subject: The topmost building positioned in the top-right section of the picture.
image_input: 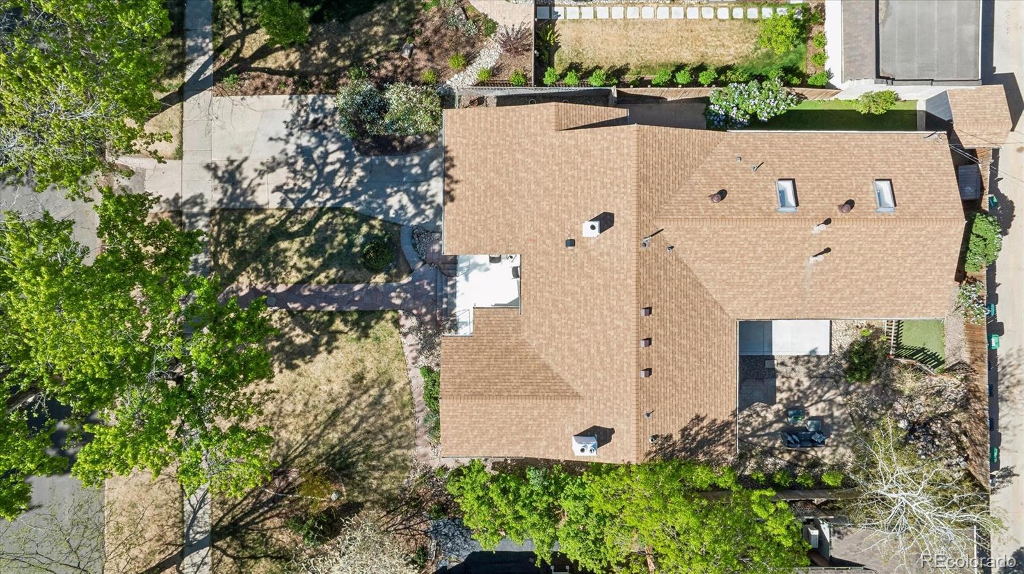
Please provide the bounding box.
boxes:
[829,0,983,97]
